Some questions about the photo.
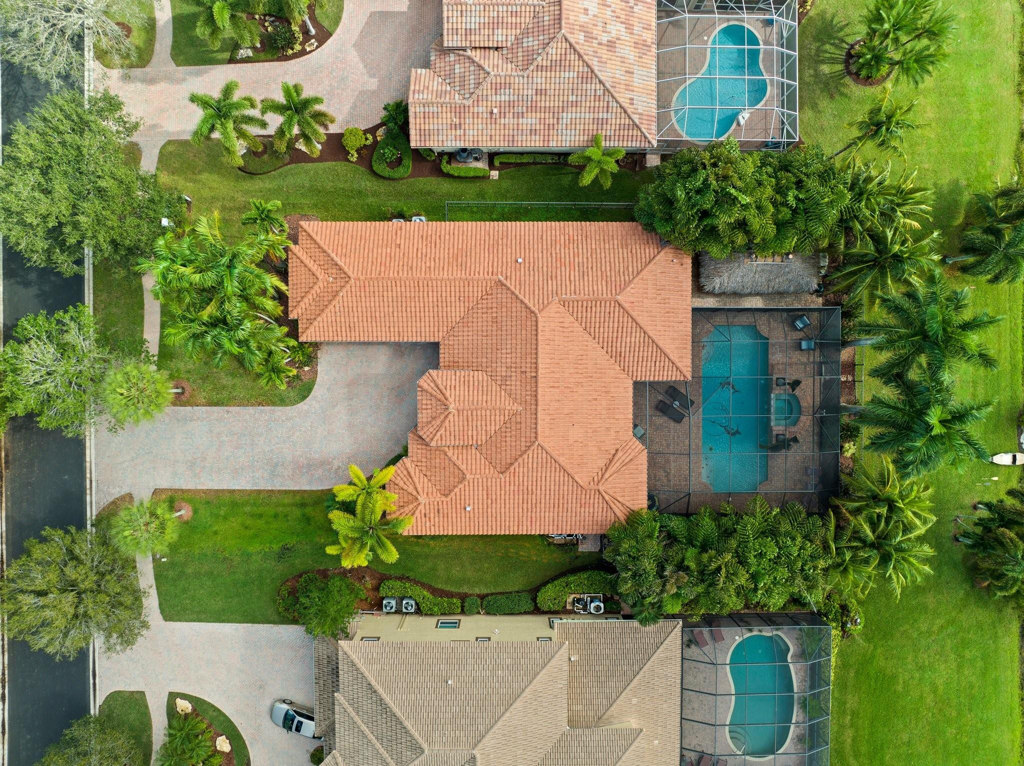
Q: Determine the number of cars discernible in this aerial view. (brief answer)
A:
1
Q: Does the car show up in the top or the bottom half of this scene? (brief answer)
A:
bottom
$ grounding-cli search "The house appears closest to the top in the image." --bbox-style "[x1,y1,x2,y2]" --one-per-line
[407,0,658,155]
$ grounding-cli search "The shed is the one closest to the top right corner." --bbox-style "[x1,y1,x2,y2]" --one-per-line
[696,241,820,298]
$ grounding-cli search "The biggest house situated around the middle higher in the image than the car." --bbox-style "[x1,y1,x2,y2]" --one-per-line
[287,220,693,536]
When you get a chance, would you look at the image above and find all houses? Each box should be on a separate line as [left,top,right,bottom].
[312,613,684,766]
[287,220,693,536]
[407,0,658,155]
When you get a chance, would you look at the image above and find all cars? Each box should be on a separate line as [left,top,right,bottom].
[267,700,323,745]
